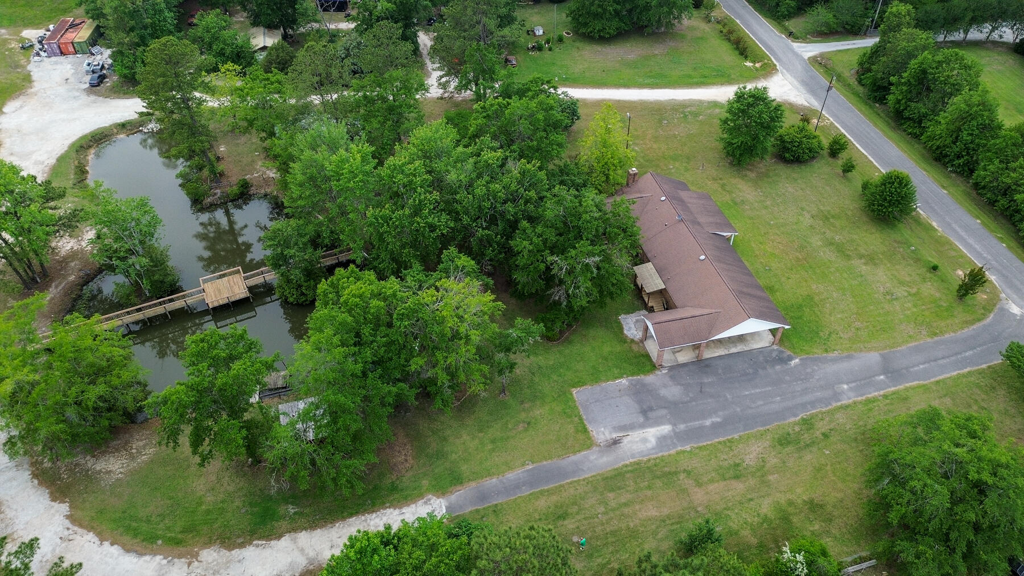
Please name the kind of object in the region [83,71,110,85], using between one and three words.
car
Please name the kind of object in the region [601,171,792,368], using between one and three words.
house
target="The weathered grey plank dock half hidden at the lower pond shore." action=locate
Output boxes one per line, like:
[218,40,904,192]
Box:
[258,348,294,399]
